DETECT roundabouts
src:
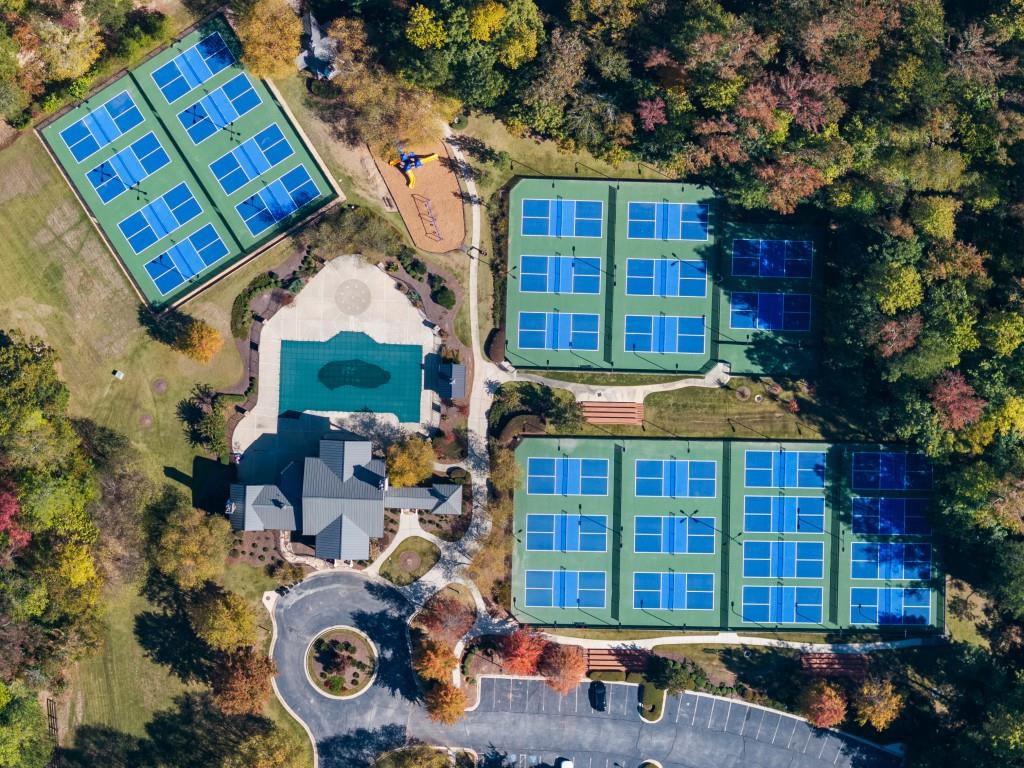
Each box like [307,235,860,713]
[304,625,378,699]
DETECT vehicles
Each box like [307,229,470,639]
[561,760,573,768]
[593,682,607,712]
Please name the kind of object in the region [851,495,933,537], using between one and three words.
sports court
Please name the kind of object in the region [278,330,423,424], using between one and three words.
swimming pool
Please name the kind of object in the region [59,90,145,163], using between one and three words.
sports court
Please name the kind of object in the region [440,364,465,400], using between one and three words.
building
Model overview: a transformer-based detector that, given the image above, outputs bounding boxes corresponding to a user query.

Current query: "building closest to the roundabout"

[228,441,462,566]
